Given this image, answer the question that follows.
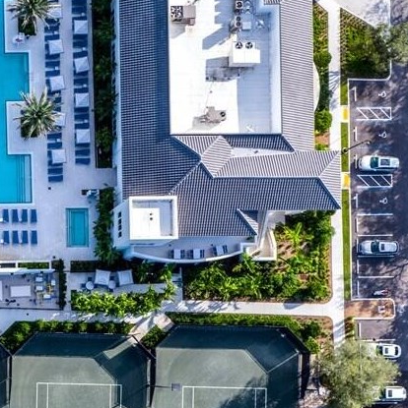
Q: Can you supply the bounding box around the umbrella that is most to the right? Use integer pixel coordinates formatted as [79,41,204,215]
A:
[115,270,132,286]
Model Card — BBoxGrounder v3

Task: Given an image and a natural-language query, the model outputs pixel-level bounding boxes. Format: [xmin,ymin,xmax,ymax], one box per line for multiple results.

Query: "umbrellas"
[73,20,89,36]
[47,39,64,55]
[94,269,110,286]
[75,94,90,109]
[76,129,91,144]
[115,270,132,286]
[51,149,66,165]
[48,76,65,92]
[47,4,62,19]
[74,57,91,75]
